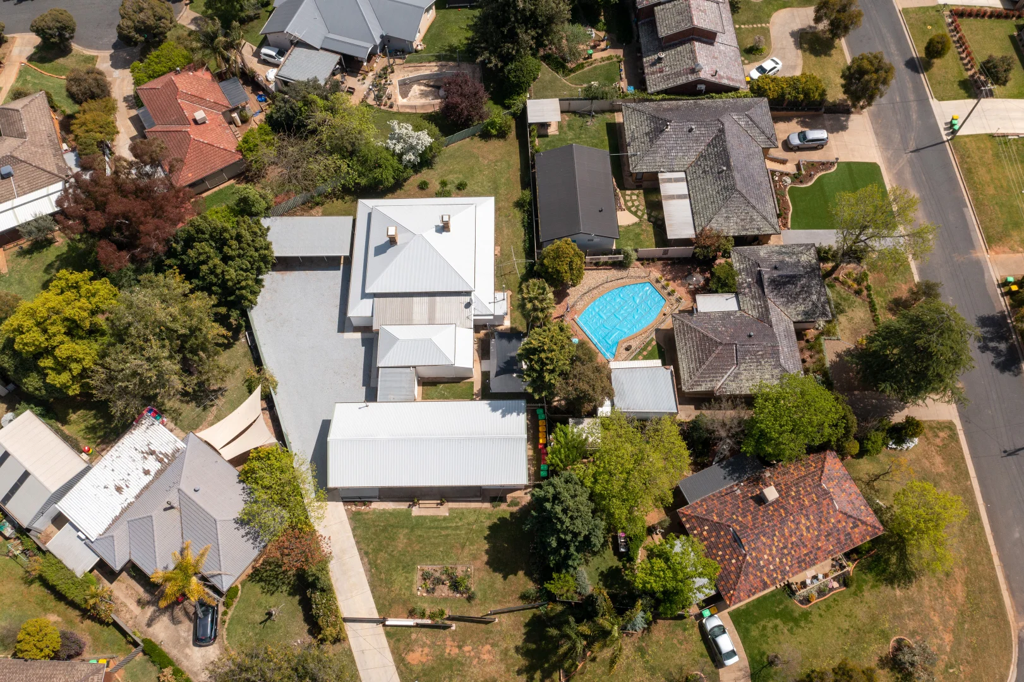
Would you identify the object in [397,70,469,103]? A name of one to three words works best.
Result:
swimming pool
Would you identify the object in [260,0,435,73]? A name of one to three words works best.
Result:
house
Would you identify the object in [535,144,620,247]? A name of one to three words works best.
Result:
shed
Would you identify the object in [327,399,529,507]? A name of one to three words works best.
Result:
house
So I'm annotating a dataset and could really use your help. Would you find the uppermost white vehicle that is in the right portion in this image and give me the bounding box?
[750,54,785,81]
